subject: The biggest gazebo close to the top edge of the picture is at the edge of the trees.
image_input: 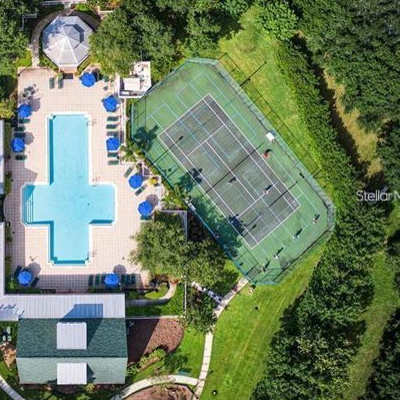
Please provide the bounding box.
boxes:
[43,17,93,68]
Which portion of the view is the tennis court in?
center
